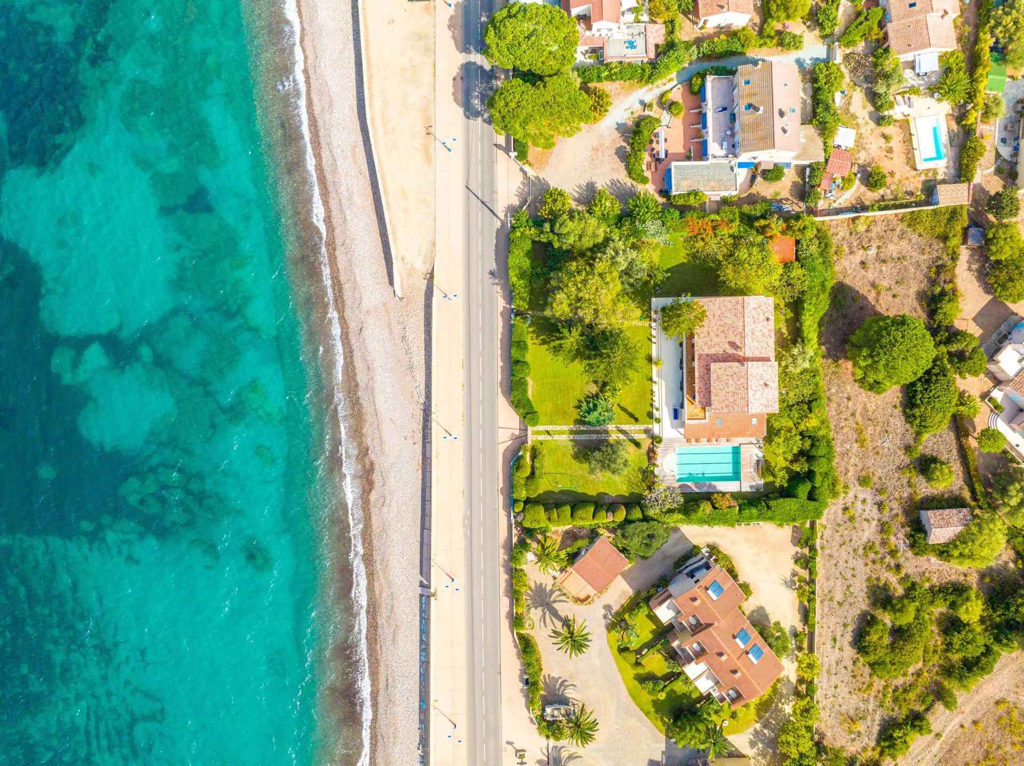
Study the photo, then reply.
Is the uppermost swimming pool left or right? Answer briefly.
right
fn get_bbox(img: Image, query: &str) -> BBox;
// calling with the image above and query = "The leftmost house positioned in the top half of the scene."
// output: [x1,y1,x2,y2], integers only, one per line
[570,0,665,65]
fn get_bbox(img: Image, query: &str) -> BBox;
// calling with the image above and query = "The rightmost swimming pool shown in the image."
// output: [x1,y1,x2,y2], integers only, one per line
[910,110,951,170]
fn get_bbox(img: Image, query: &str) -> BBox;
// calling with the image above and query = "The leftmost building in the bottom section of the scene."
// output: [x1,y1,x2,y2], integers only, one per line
[556,535,629,604]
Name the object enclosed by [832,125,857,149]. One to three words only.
umbrella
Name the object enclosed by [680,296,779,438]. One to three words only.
house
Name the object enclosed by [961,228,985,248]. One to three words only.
shed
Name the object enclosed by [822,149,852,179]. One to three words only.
shed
